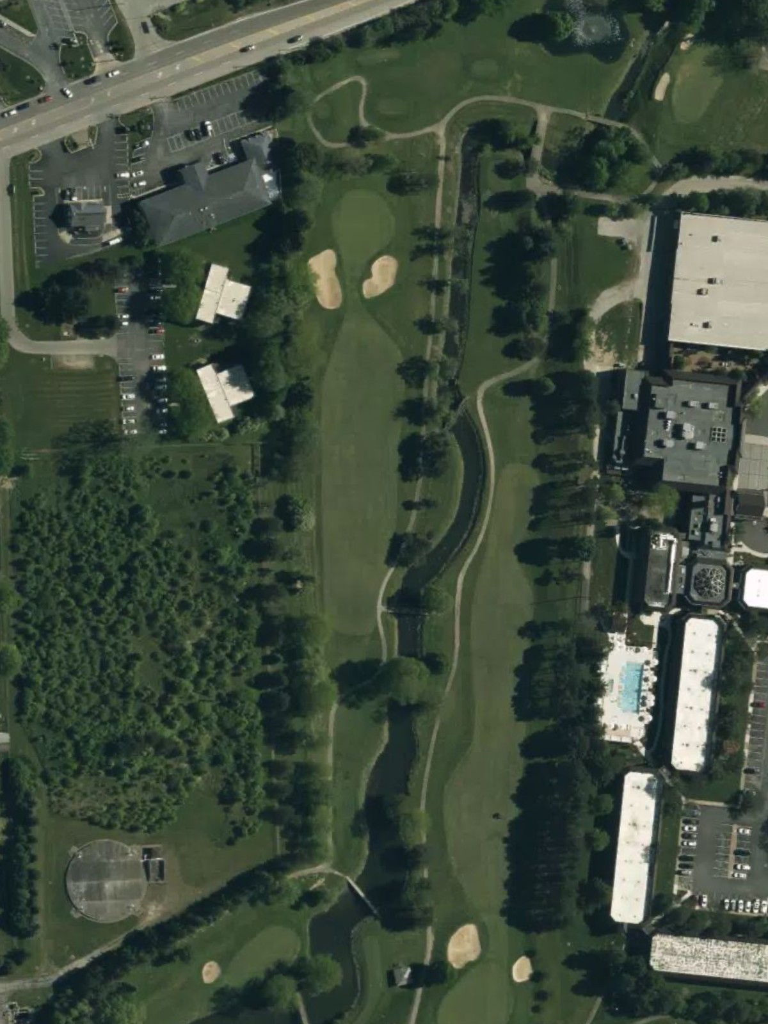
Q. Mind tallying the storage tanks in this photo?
1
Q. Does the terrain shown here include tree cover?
Yes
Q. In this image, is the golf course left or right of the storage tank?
right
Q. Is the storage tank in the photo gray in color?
Yes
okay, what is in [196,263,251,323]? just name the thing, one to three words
building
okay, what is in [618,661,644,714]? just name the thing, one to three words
swimming pool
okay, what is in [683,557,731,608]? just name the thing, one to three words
building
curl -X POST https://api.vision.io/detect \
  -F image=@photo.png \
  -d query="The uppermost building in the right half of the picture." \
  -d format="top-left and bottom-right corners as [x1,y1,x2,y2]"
[667,213,768,351]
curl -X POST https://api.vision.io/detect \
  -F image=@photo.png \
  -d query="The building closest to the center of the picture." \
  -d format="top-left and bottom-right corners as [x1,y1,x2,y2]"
[196,364,253,423]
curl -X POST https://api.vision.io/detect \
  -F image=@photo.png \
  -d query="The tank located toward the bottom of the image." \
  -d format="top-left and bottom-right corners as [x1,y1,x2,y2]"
[65,840,147,921]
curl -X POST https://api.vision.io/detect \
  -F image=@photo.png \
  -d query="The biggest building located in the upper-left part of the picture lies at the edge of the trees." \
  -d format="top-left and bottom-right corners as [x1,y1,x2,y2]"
[141,133,276,247]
